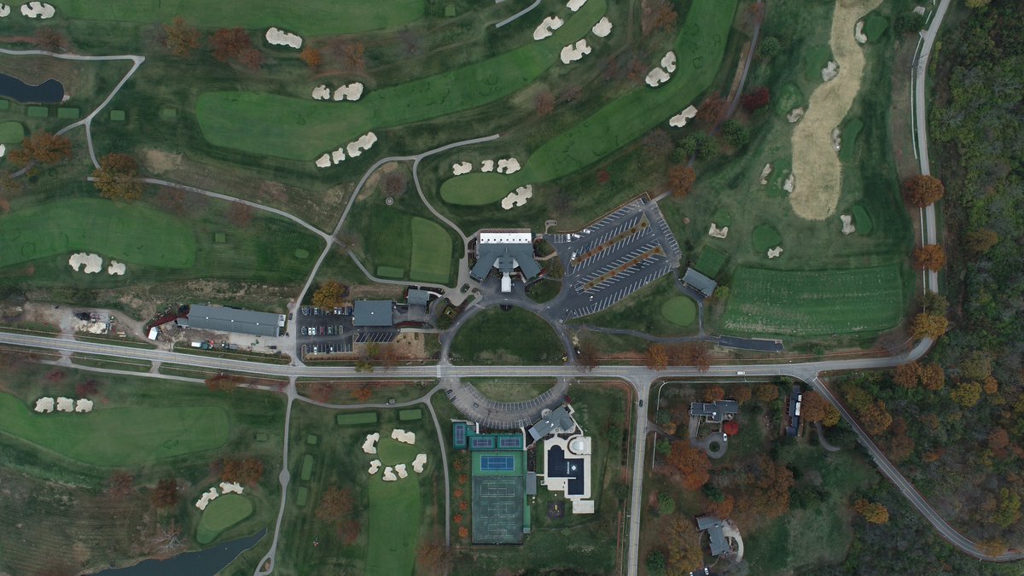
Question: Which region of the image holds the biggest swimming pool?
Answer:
bottom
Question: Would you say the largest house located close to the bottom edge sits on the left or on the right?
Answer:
right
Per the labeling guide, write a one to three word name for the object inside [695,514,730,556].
house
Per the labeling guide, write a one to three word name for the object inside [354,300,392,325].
building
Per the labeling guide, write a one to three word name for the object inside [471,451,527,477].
tennis court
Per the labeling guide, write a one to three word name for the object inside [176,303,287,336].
shed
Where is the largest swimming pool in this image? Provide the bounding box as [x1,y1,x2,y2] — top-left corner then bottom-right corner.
[544,434,594,514]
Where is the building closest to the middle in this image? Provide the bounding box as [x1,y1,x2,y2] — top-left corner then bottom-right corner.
[467,233,545,292]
